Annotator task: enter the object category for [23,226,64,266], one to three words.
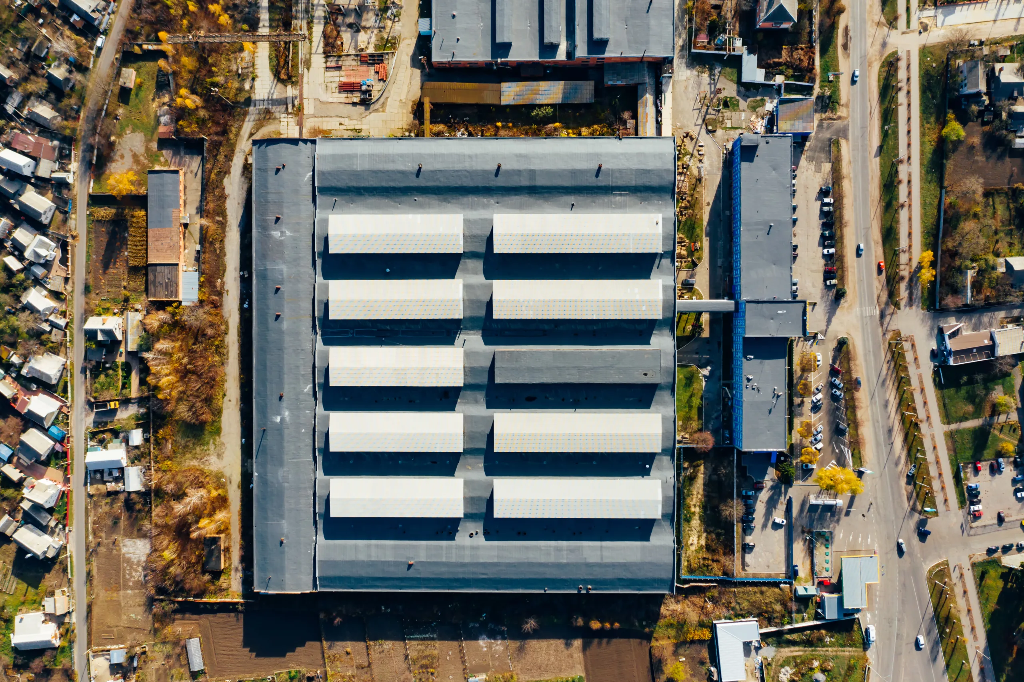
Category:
house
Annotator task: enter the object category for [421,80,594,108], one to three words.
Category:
shed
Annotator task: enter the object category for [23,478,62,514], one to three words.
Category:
house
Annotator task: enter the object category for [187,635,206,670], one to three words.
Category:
building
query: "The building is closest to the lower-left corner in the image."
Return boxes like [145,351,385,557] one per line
[11,610,65,652]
